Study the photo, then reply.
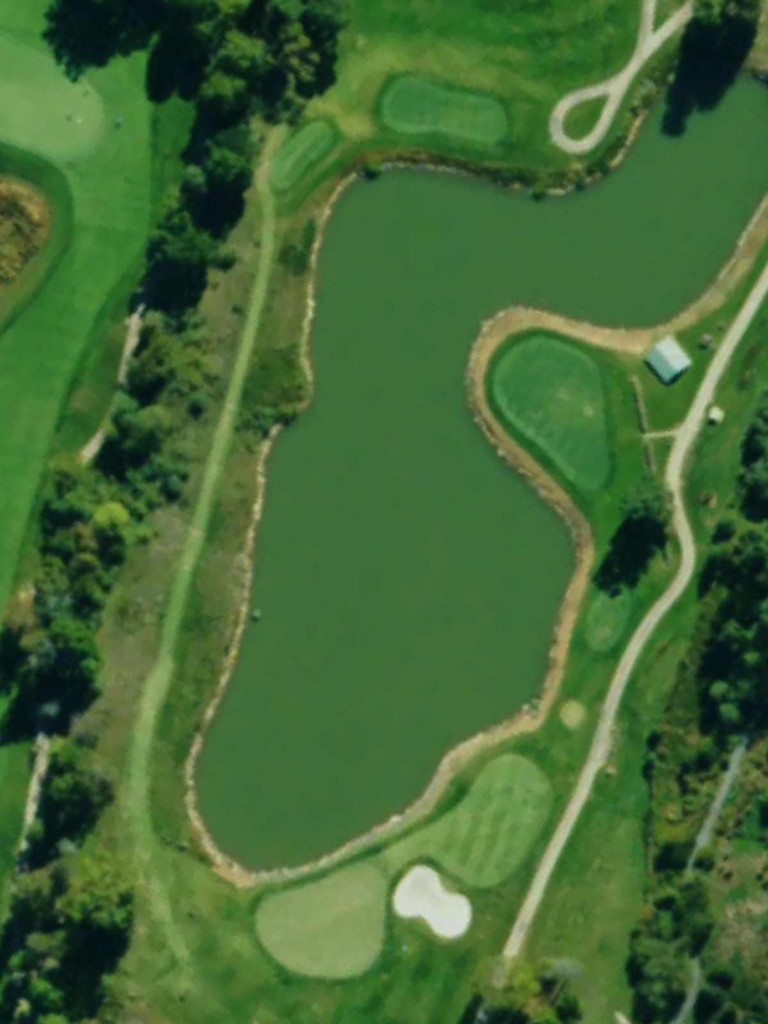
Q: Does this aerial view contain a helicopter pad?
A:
No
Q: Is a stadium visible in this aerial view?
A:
No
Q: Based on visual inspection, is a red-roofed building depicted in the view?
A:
No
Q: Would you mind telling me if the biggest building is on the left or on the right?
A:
right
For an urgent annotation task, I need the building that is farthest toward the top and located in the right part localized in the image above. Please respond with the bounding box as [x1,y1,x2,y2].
[644,337,692,382]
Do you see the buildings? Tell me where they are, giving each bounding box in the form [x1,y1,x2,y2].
[644,337,692,382]
[708,406,725,424]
